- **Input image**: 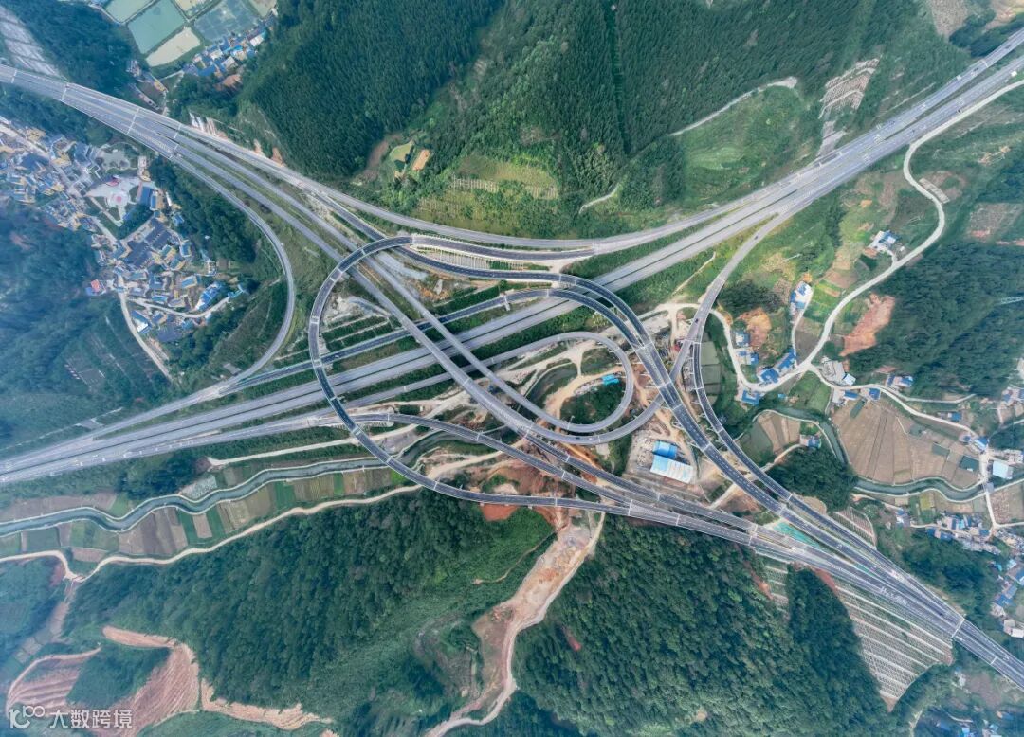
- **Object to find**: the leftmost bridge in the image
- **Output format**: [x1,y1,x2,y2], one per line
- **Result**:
[0,72,182,155]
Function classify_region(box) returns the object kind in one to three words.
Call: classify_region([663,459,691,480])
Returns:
shed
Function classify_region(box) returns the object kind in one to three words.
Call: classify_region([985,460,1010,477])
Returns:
house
